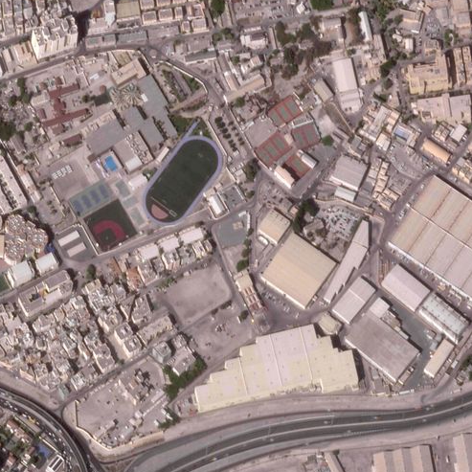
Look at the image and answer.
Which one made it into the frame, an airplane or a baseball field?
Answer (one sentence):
It is a baseball field that can be seen here.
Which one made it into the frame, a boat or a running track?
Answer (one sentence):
The image shows a running track.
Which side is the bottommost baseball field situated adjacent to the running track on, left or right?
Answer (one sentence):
The bottommost baseball field situated adjacent to the running track is on the left side of the image.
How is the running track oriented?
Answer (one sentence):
The running track is oriented at an angle.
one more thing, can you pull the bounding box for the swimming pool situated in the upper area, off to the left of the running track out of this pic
[103,152,121,172]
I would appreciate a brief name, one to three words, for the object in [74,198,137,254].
baseball field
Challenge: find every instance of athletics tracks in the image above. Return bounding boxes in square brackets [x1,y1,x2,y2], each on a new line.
[144,122,223,223]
